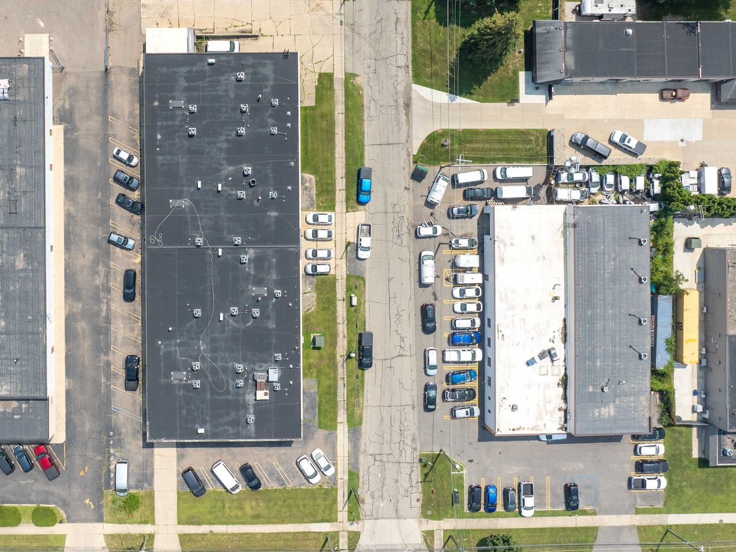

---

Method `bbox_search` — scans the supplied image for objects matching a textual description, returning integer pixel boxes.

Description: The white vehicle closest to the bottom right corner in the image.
[629,475,666,491]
